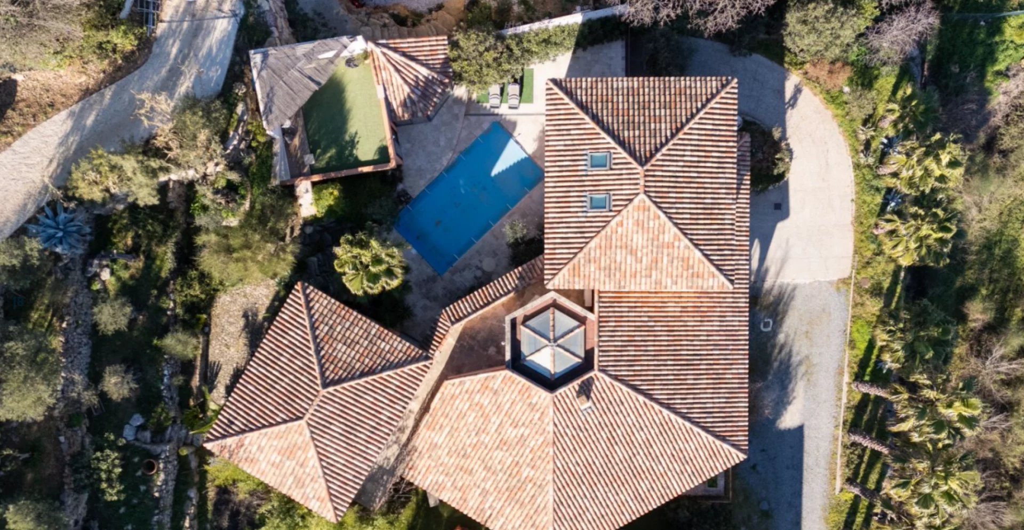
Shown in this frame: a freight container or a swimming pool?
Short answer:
swimming pool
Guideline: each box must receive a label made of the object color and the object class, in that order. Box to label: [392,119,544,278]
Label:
blue swimming pool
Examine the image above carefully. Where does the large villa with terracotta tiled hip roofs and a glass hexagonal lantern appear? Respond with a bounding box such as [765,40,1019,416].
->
[399,75,752,530]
